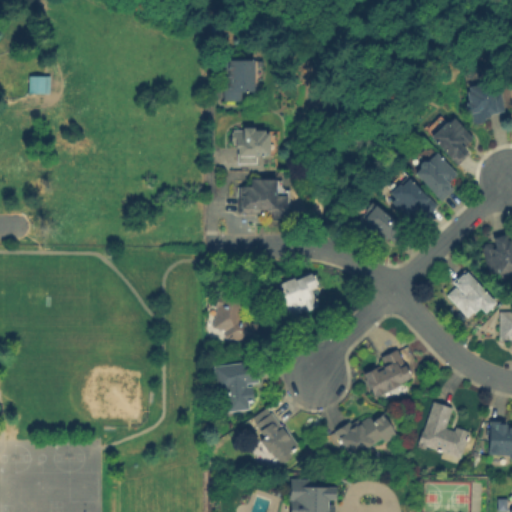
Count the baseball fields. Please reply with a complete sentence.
Only 1 baseball field is visible.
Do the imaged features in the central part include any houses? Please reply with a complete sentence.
Yes, looking in the central part, one can make out a house.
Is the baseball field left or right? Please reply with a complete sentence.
You can find the baseball field on the left side of the picture.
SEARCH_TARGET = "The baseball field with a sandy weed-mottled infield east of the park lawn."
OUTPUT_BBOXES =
[82,366,150,431]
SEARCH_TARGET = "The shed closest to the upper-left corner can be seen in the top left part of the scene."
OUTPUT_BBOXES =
[30,73,50,95]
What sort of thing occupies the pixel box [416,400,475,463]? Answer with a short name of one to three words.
house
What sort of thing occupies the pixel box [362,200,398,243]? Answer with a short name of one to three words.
house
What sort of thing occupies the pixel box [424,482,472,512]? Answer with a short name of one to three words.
sports court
